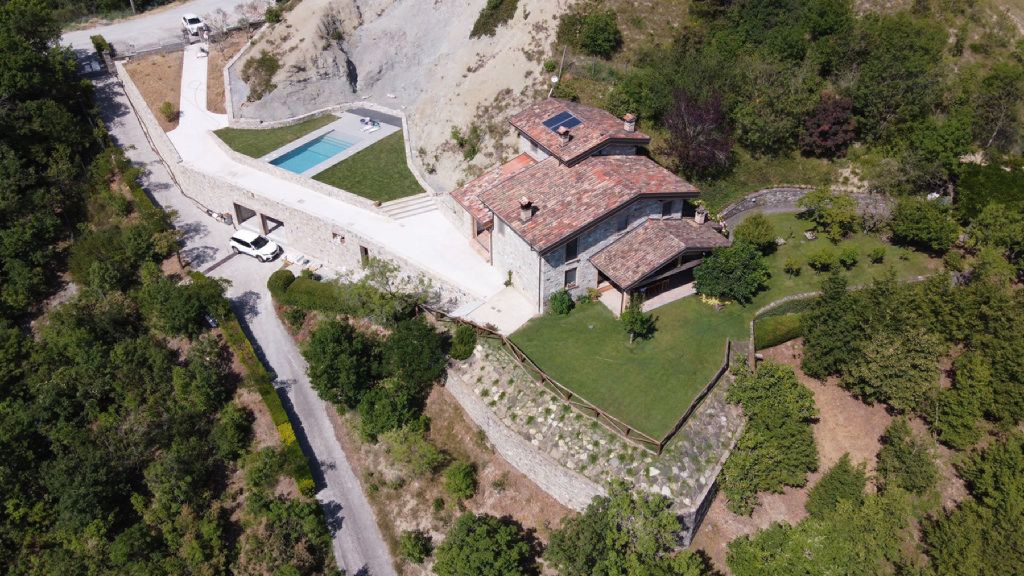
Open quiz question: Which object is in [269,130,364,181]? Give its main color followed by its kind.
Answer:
blue swimming pool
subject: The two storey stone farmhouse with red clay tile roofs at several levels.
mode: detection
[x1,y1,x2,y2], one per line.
[448,93,730,320]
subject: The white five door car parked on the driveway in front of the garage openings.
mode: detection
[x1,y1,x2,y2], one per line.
[228,229,278,263]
